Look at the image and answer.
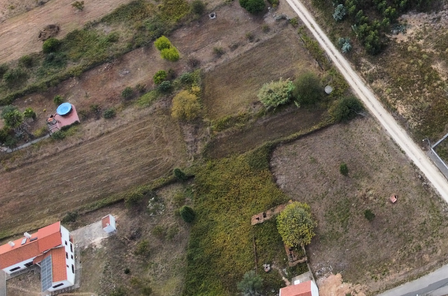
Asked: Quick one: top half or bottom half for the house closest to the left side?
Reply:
bottom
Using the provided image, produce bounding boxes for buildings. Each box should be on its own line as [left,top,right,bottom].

[279,280,318,296]
[103,215,114,232]
[0,221,74,295]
